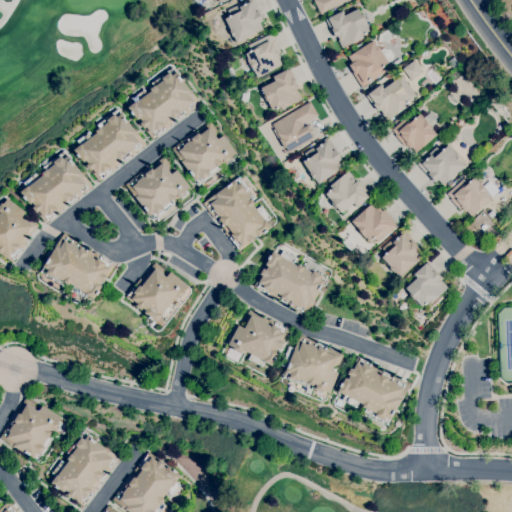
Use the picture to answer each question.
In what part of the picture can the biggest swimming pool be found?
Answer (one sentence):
Look in the top right portion of the view to spot the biggest swimming pool.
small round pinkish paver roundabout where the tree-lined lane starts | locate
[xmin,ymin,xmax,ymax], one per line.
[210,258,240,288]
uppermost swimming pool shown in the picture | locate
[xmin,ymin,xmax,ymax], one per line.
[421,47,449,67]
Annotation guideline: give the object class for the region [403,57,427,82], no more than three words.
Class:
building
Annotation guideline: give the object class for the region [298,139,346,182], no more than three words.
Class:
house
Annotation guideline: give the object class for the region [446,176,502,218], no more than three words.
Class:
house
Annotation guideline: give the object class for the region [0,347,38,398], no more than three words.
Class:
roundabout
